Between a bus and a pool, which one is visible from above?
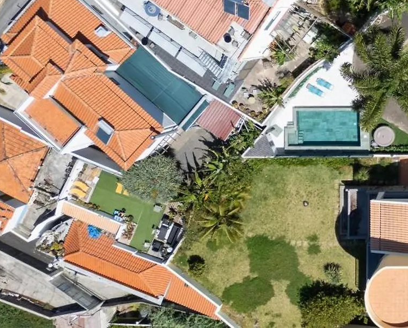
pool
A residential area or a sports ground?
residential area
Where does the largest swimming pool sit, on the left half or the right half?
right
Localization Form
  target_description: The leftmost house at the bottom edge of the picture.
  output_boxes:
[60,197,249,328]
